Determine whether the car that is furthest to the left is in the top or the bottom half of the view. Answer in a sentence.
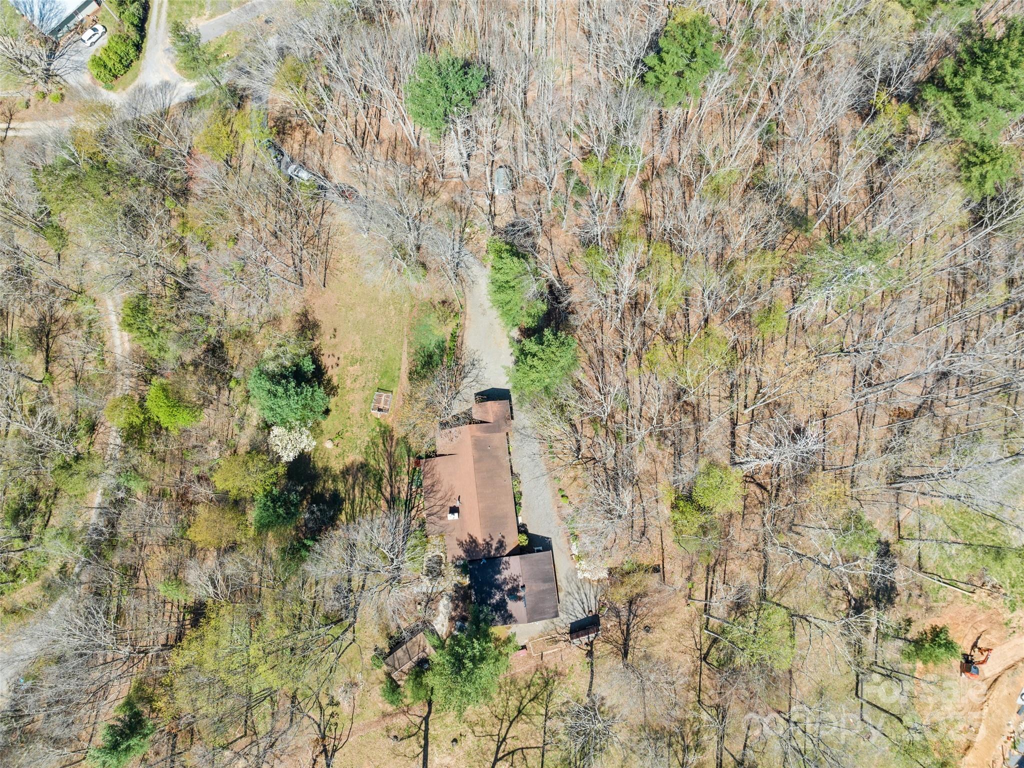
It is in the top half that the car that is furthest to the left appears.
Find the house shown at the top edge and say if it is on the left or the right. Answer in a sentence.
You can find the house shown at the top edge on the left side of the picture.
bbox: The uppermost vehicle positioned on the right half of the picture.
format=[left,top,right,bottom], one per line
[958,644,993,679]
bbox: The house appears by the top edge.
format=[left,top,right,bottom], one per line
[13,0,120,45]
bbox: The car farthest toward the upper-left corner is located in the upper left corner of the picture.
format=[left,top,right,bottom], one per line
[76,23,108,48]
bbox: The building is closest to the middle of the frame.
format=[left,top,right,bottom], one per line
[421,400,522,562]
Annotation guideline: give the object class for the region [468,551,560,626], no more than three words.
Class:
building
